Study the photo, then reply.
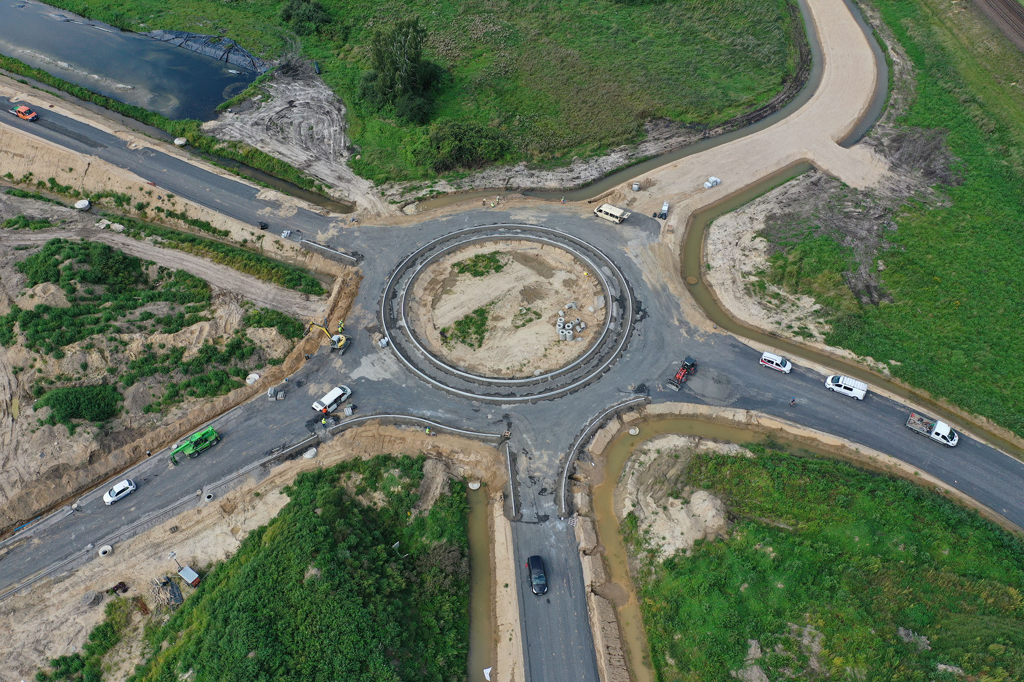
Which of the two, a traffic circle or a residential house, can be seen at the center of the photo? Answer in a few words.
traffic circle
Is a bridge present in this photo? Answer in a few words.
No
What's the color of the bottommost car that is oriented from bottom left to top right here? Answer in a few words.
white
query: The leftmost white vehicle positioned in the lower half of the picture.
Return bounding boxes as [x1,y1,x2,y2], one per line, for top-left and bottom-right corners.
[103,480,136,505]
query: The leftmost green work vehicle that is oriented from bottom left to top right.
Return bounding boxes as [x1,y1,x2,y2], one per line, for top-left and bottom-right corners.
[161,423,220,470]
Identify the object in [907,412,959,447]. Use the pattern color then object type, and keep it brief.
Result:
white truck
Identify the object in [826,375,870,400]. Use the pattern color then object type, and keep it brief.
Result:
white vehicle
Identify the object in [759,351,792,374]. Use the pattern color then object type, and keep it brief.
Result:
white car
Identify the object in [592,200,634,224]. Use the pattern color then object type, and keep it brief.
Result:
white vehicle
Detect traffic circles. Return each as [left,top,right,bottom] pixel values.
[296,206,727,477]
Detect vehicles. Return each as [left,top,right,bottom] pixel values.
[907,412,959,447]
[310,319,350,356]
[8,102,40,121]
[592,200,634,224]
[759,351,792,374]
[826,375,870,400]
[527,556,549,595]
[103,480,136,505]
[666,361,691,391]
[313,386,352,412]
[161,423,220,470]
